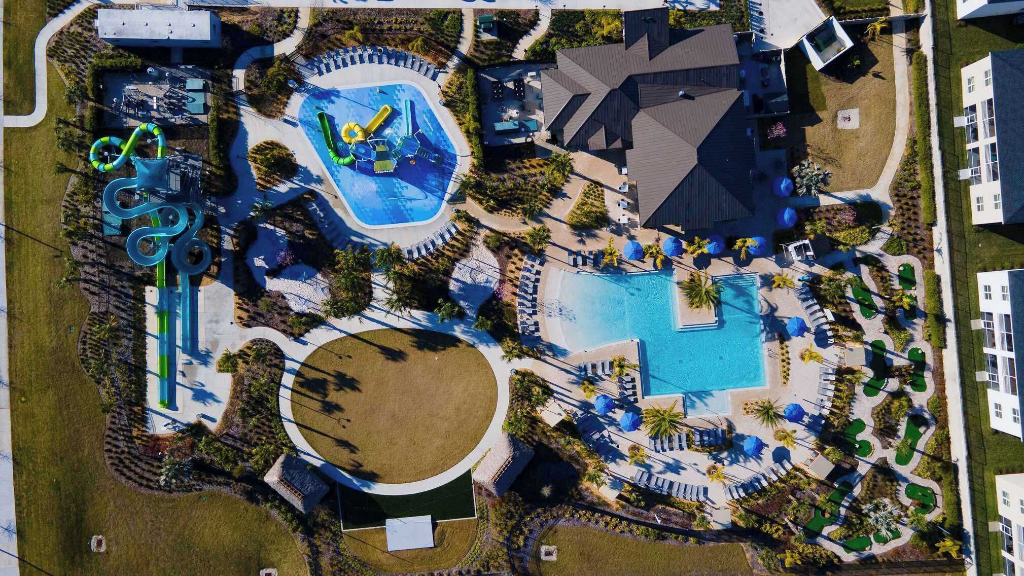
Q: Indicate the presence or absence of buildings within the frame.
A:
Yes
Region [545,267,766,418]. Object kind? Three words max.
swimming pool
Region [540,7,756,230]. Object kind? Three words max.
building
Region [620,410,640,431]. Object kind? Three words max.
umbrella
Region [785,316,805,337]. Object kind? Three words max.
umbrella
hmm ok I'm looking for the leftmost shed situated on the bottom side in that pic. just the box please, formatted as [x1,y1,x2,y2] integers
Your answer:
[264,454,329,513]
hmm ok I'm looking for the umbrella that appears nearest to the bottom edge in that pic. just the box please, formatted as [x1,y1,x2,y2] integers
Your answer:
[742,436,763,457]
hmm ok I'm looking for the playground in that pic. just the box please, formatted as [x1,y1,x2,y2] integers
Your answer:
[316,100,442,179]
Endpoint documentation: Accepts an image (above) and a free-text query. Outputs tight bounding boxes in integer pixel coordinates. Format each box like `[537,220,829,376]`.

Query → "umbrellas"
[620,410,640,431]
[773,176,793,197]
[775,208,795,227]
[785,316,805,337]
[663,237,683,257]
[594,395,614,414]
[749,235,766,255]
[621,240,643,261]
[742,436,763,457]
[783,401,803,421]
